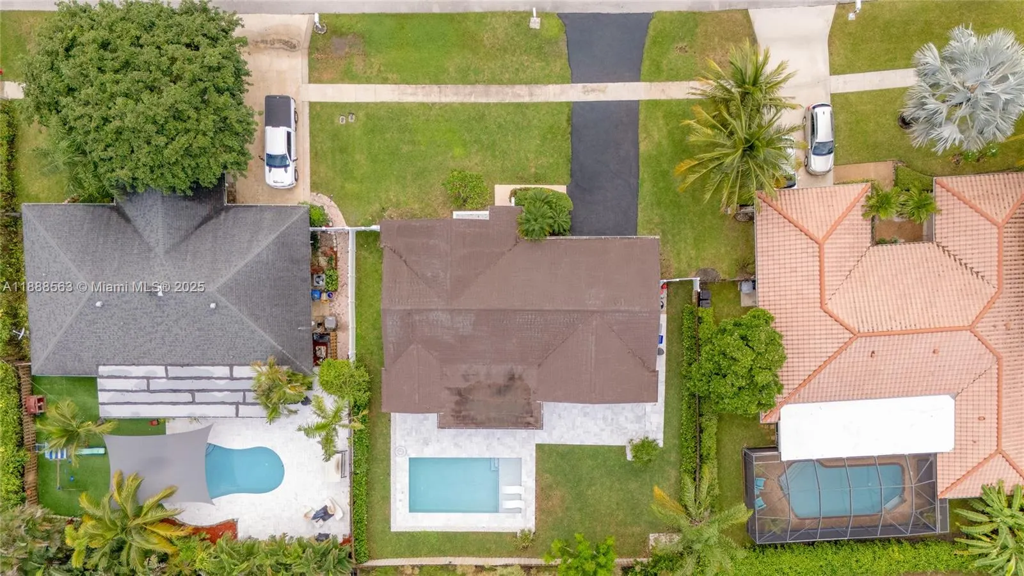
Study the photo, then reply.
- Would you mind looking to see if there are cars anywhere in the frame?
Yes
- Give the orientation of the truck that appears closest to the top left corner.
from top to bottom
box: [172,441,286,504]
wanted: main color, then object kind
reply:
blue swimming pool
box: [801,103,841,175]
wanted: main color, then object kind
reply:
white car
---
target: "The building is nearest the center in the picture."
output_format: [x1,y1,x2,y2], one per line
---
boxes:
[381,196,661,430]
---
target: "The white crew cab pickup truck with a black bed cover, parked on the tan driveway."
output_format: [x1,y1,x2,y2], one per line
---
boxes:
[256,95,301,190]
